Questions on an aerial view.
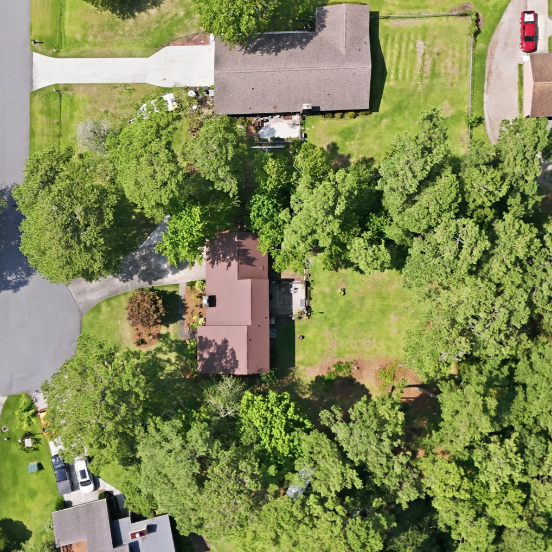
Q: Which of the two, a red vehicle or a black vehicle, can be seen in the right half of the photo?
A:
red vehicle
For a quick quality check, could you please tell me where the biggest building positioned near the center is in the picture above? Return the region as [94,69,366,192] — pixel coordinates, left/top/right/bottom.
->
[196,231,270,374]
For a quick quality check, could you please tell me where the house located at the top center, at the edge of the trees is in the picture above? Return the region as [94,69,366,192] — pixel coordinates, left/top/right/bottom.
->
[214,3,372,119]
